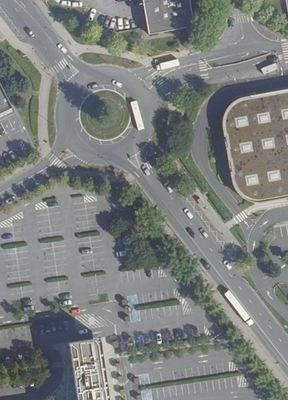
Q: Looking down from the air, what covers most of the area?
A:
paved ground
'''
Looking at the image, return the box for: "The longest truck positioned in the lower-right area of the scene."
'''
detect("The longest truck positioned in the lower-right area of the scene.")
[224,290,254,326]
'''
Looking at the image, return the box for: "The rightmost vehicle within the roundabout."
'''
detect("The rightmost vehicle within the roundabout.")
[131,100,144,132]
